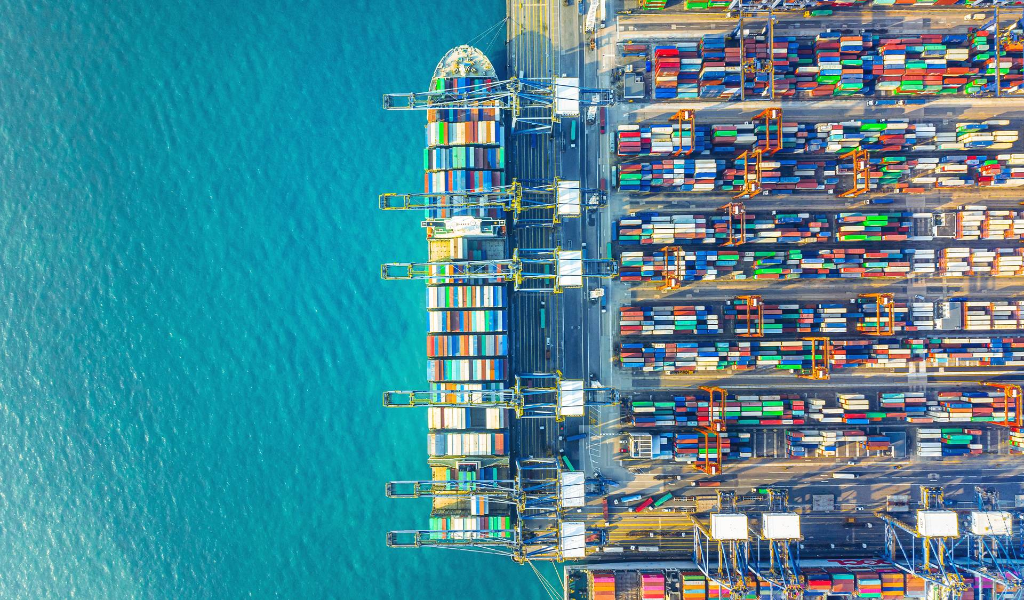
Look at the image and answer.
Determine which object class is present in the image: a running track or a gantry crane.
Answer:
gantry crane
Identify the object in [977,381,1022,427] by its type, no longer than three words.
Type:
crane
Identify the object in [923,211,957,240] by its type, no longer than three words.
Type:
building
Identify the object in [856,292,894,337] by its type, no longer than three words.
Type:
crane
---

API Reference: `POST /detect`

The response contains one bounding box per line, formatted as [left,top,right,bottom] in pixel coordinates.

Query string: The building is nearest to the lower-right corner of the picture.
[878,430,907,458]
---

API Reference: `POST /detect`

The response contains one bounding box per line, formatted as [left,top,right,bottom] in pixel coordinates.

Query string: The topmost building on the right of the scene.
[622,73,645,102]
